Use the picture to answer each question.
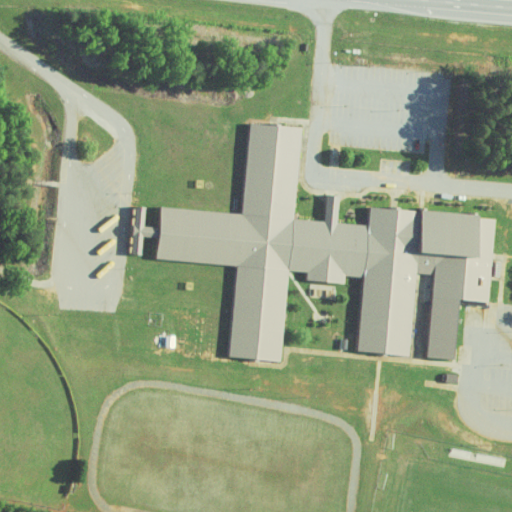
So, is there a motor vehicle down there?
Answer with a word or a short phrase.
Yes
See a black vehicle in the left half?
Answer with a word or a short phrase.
No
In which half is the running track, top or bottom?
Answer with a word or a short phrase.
bottom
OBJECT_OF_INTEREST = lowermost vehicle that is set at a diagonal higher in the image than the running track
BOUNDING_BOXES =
[96,260,115,278]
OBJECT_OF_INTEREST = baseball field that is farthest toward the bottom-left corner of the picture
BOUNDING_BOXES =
[0,302,78,507]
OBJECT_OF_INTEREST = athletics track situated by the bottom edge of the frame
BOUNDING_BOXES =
[87,380,362,512]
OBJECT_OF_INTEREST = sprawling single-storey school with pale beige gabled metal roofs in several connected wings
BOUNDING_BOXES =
[156,124,498,363]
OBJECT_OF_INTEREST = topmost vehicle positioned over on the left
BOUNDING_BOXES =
[99,215,120,233]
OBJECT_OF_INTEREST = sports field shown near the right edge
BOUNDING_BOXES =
[400,462,512,512]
